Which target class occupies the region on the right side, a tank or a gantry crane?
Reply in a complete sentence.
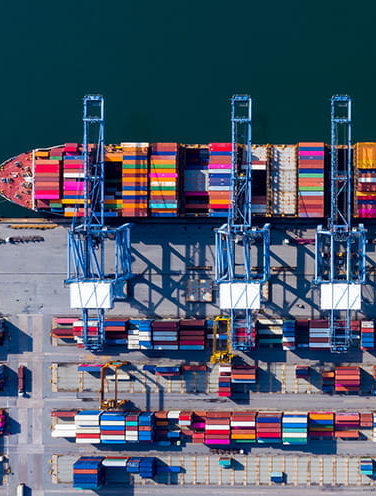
There is a gantry crane on the right side.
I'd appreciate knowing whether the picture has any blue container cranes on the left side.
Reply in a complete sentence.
Yes, a blue container crane is visible on the left side.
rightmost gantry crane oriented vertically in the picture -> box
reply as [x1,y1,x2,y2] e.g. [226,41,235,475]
[309,93,369,353]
